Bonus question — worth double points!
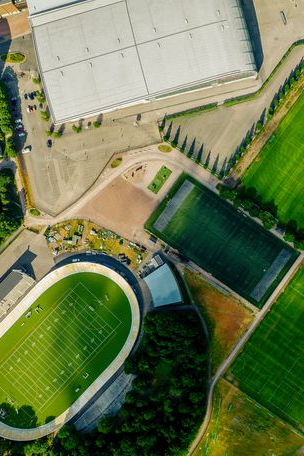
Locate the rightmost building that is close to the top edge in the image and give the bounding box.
[27,0,258,129]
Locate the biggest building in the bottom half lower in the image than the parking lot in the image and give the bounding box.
[144,263,184,306]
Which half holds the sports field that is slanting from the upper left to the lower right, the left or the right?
right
